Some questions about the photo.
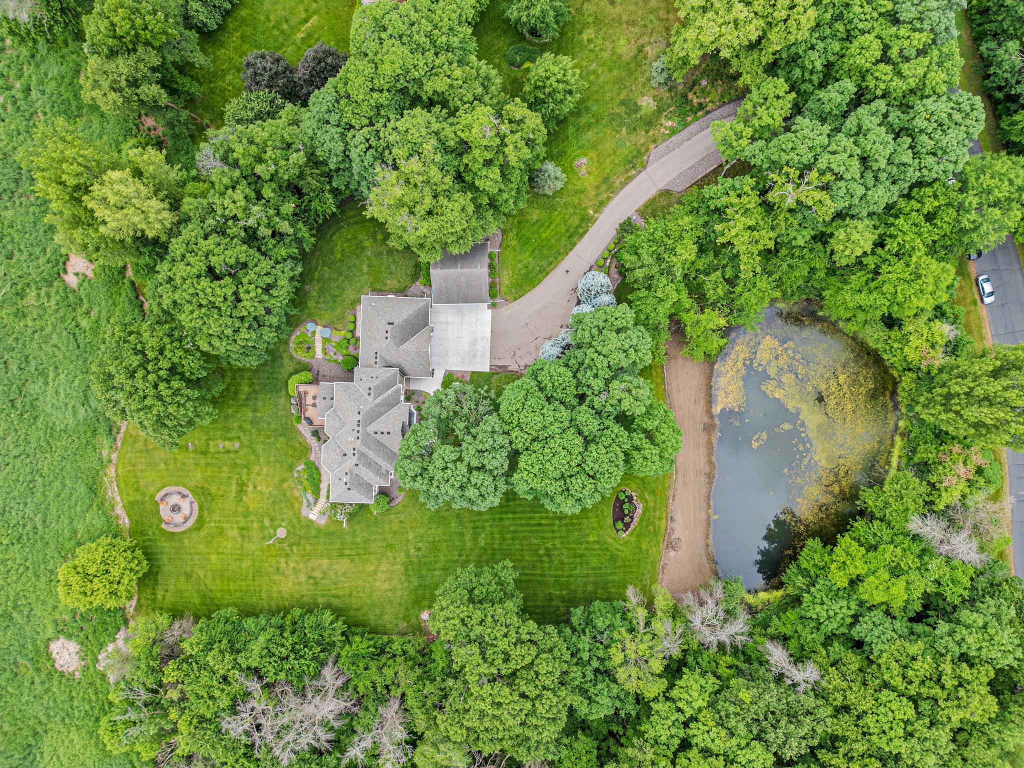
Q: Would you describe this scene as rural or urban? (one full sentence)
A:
It looks rural.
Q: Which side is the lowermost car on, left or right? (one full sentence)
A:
It is on the right.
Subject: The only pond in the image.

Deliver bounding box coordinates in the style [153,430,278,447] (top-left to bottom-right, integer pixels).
[710,300,900,591]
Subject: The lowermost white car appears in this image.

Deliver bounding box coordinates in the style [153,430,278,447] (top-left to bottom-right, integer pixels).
[976,274,996,305]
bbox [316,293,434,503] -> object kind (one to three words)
house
